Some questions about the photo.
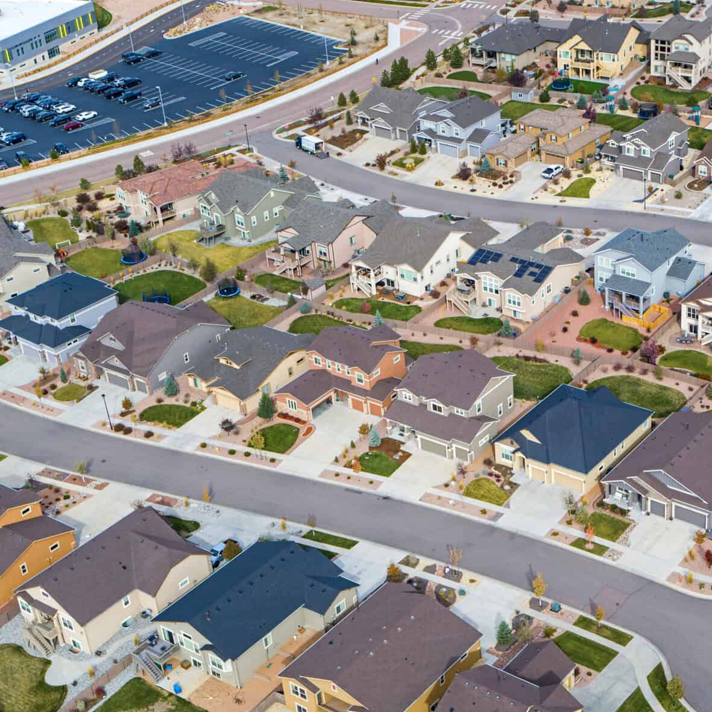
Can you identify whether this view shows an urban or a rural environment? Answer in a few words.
urban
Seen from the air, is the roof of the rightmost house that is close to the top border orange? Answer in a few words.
No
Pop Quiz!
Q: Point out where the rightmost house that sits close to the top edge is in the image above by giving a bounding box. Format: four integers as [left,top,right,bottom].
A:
[650,16,712,88]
